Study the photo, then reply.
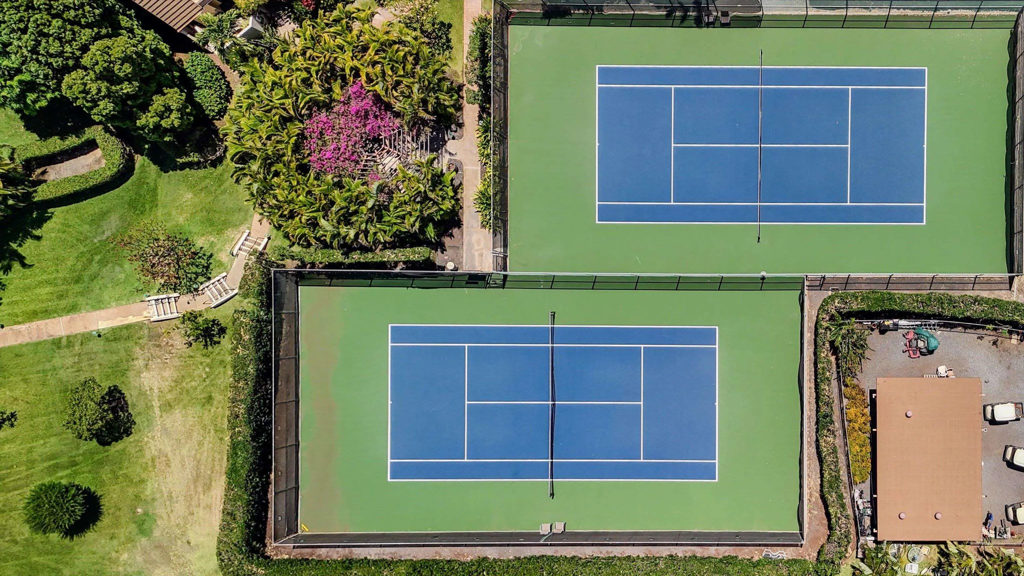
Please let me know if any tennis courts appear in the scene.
Yes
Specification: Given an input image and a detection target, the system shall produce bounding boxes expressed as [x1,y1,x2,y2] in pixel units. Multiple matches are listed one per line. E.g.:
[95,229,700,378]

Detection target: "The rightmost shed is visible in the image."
[872,377,987,541]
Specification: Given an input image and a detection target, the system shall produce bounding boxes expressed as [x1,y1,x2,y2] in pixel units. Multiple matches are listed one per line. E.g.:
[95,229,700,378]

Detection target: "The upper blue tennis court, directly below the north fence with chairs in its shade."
[509,14,1014,273]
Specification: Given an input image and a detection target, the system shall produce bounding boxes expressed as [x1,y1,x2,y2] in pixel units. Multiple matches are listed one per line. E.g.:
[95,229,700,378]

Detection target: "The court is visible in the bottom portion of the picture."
[300,276,802,532]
